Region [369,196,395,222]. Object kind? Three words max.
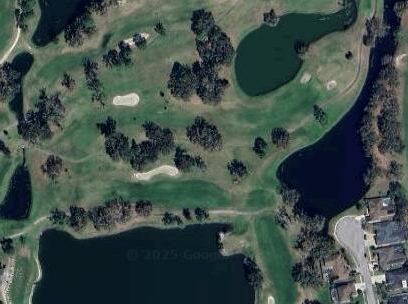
house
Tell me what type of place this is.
golf course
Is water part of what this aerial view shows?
Yes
